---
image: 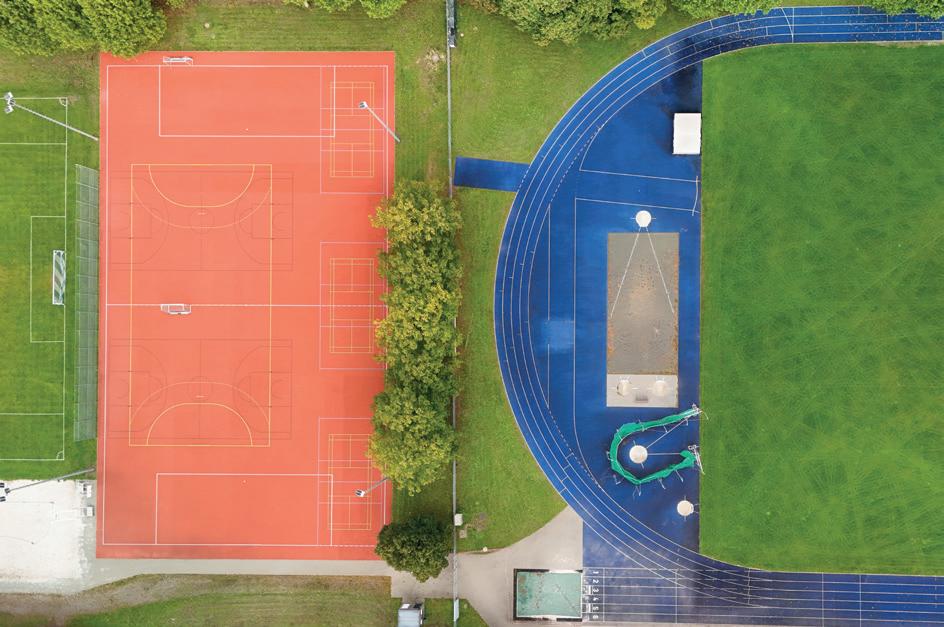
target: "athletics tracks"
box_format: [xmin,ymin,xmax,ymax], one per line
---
[493,6,944,627]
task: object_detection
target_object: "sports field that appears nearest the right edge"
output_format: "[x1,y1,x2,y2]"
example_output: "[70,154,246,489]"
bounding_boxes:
[700,41,944,576]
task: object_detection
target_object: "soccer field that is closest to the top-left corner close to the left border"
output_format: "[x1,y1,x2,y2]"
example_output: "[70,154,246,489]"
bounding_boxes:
[0,96,68,462]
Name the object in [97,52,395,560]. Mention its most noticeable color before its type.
red sports court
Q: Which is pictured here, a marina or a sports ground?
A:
sports ground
